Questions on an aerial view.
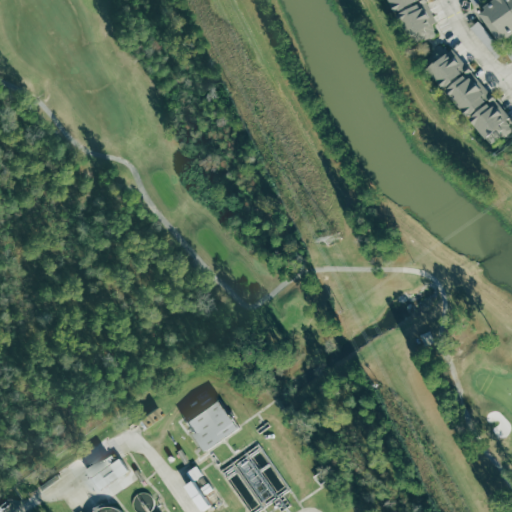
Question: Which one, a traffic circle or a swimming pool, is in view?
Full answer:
There is a swimming pool in the scene.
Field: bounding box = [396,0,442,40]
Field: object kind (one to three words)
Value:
house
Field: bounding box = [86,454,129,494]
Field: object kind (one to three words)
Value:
building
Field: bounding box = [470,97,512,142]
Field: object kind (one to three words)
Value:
house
